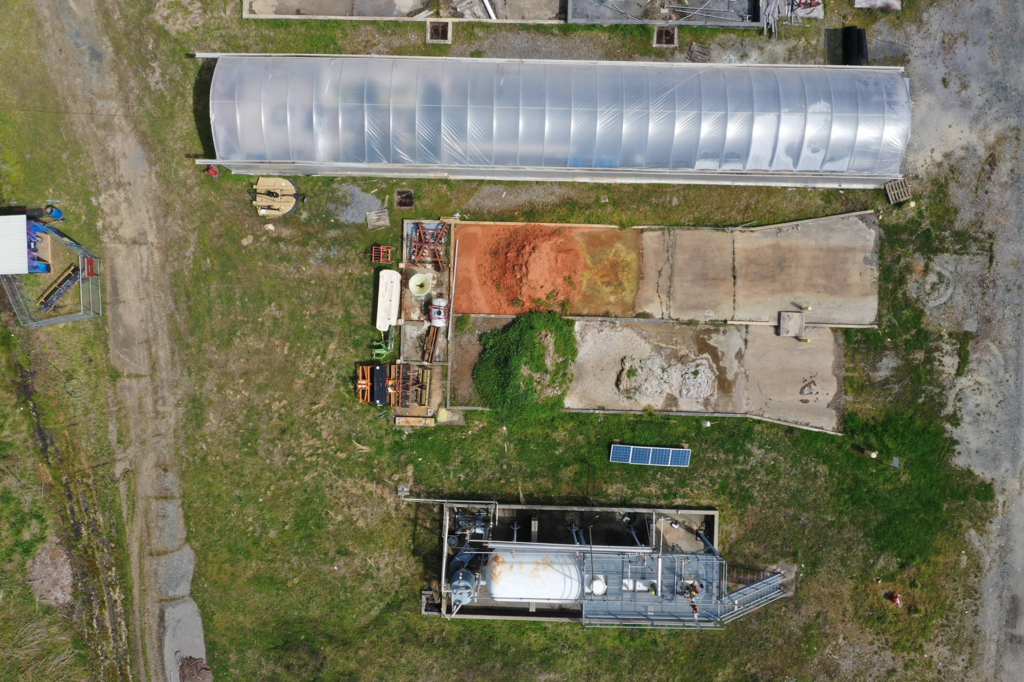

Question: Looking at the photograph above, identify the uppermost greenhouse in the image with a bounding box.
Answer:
[195,47,908,189]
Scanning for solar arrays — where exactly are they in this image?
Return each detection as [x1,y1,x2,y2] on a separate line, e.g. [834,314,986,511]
[610,437,691,467]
